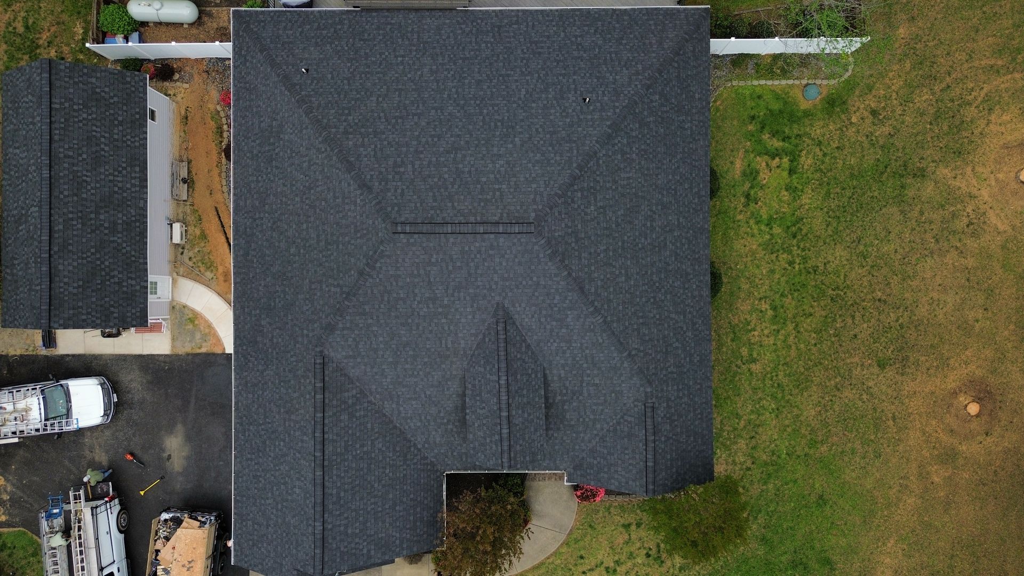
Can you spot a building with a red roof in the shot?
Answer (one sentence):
No, there is no building with a red roof in the image.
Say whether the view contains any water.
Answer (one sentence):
No, water can't be seen anywhere here.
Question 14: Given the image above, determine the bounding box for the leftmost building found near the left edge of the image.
[1,57,171,331]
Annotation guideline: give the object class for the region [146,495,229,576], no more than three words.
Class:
trailer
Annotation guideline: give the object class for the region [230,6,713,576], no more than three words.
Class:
house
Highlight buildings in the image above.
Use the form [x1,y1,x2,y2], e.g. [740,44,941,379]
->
[230,6,713,576]
[1,57,171,331]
